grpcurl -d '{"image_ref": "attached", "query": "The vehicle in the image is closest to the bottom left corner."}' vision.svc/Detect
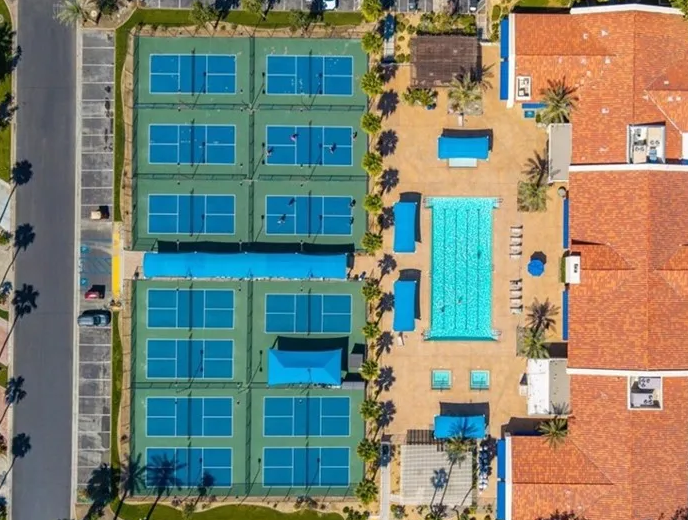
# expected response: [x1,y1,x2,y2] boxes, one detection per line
[76,313,108,327]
